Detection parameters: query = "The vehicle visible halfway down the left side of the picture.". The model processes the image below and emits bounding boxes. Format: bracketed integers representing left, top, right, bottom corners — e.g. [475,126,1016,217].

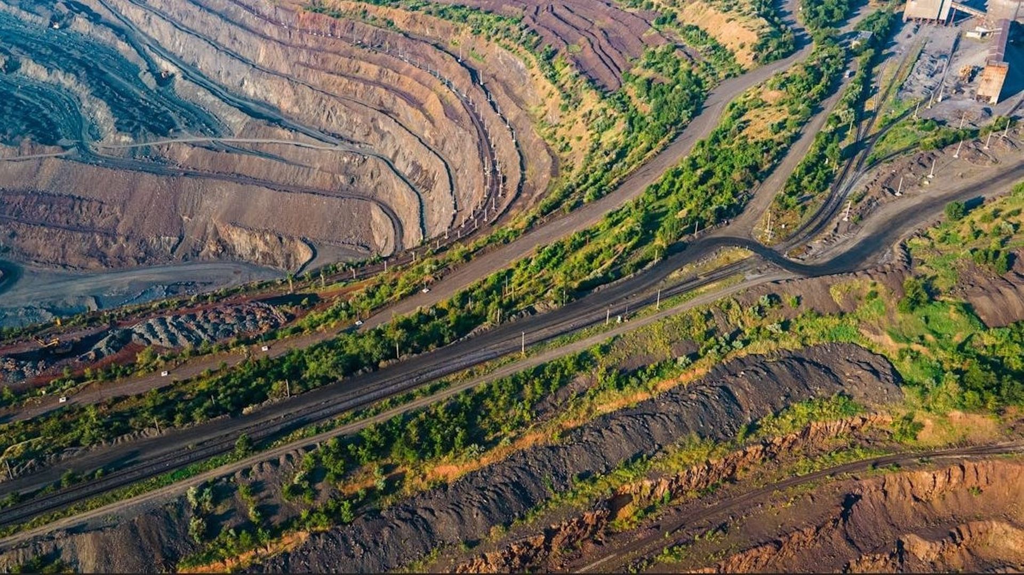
[39,336,64,352]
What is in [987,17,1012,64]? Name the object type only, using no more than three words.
building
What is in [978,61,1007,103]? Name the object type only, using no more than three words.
building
